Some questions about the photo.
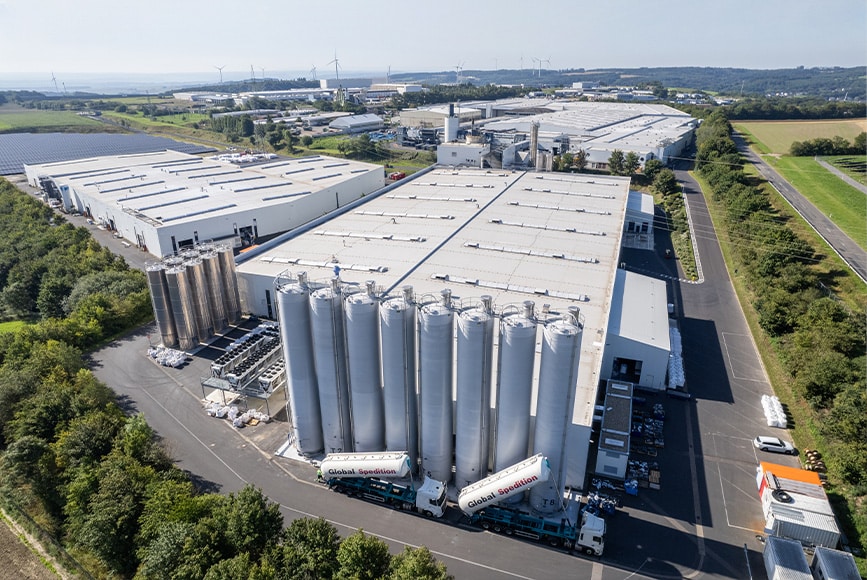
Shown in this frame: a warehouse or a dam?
warehouse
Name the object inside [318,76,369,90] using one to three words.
building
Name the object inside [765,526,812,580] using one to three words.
building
